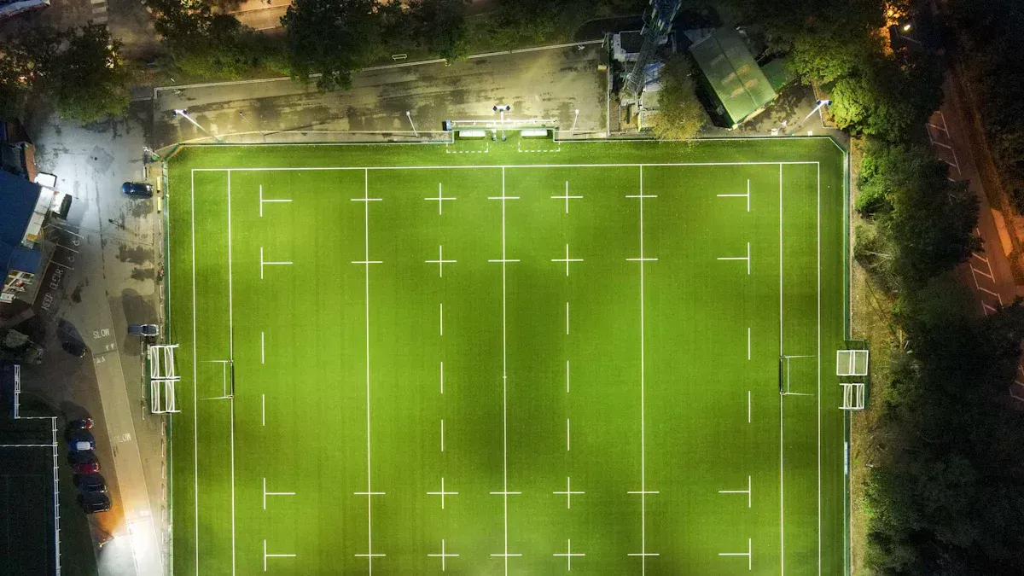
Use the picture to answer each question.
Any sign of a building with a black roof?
Yes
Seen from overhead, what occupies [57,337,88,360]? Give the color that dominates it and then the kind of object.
black car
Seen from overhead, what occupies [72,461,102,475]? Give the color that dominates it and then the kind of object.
red car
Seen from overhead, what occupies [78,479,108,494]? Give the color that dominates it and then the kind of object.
black car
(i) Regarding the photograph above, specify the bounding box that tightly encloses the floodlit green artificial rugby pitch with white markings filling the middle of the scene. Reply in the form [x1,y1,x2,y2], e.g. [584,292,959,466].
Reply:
[147,130,863,576]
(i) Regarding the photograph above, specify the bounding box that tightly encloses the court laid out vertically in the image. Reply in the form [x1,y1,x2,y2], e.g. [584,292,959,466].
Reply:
[0,363,56,576]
